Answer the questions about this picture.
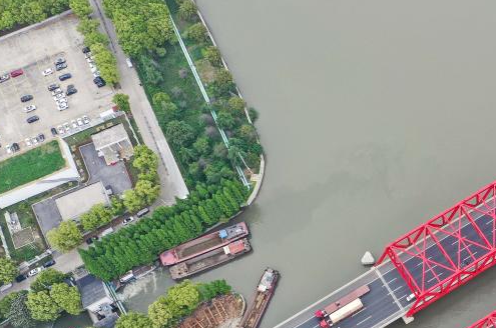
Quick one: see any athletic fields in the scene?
No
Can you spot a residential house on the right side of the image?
No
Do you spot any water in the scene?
Yes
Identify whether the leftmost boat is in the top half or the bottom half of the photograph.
bottom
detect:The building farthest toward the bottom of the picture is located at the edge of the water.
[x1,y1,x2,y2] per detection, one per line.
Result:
[77,275,121,322]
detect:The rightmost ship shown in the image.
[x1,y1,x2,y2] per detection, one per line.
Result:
[240,267,279,328]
